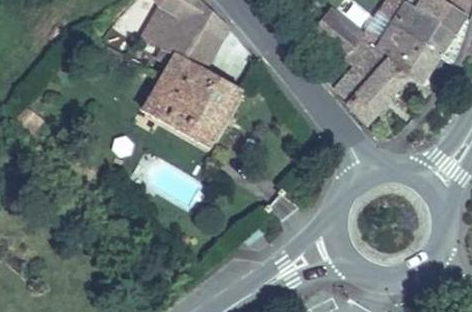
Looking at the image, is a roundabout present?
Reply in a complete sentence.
Yes, looking at the shot, I can spot a roundabout.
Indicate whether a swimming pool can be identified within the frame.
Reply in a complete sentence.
Yes, a swimming pool is visible in the scene.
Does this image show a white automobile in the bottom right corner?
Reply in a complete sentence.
Yes, looking in the bottom right corner, one can make out a white automobile.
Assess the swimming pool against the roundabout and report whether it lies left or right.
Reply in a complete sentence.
Looking at the photo, the swimming pool lies to the left of the roundabout.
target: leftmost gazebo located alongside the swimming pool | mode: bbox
[112,135,135,159]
